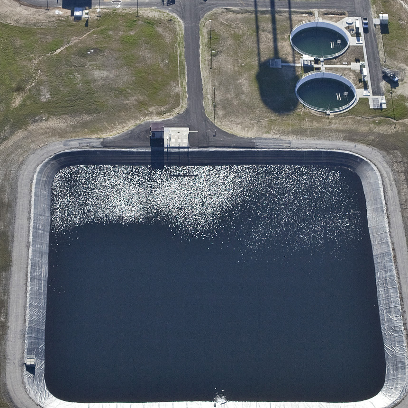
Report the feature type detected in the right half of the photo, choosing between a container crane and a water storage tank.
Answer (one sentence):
You can see a water storage tank in the right half of the photo.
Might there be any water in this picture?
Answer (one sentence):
Yes, there is water in the image.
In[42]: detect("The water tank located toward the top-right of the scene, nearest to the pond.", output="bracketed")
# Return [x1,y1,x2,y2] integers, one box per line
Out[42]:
[293,70,362,117]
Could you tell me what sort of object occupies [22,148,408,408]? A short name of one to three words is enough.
pond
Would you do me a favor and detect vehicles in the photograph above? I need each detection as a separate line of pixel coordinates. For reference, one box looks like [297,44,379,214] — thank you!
[362,19,370,32]
[378,66,403,82]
